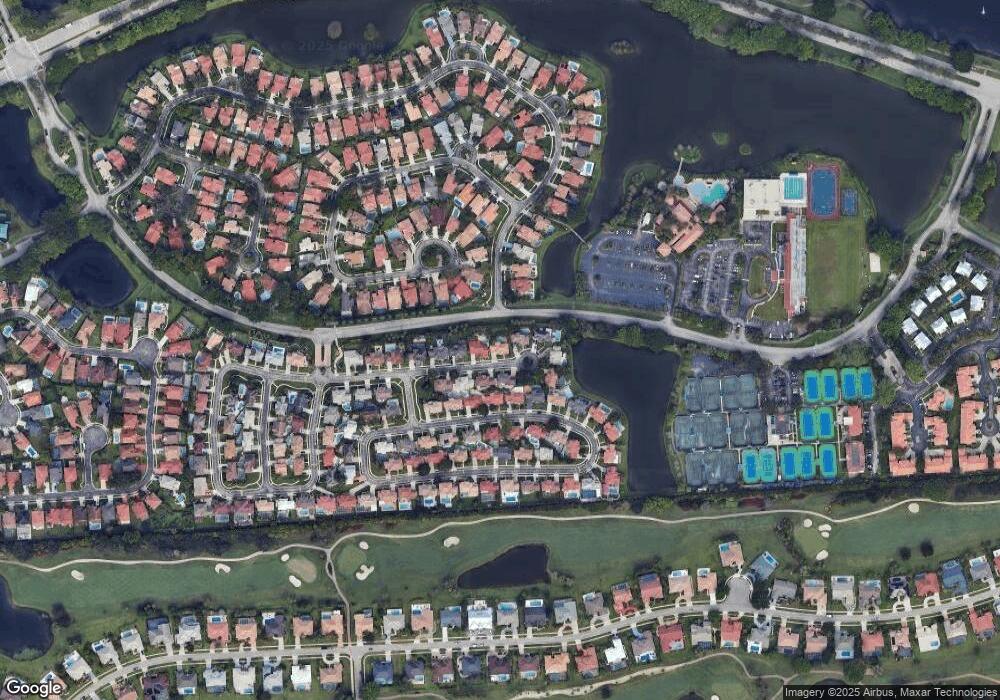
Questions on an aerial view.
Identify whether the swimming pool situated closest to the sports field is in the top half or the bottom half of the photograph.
top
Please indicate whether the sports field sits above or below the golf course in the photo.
above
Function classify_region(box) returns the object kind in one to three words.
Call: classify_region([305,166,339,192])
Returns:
house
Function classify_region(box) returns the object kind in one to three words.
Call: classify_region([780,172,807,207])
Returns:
swimming pool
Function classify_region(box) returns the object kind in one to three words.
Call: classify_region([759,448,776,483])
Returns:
tennis court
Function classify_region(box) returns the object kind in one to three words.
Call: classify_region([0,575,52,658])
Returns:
pond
